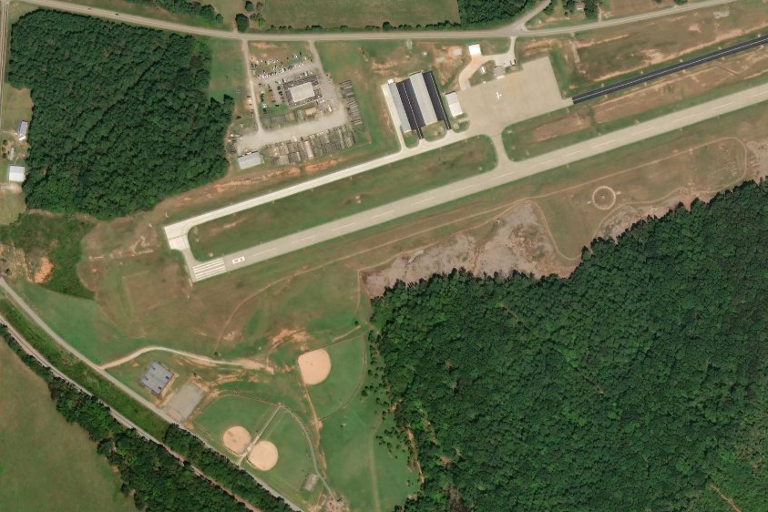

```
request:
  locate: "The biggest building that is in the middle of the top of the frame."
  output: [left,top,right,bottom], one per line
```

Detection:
[410,73,438,125]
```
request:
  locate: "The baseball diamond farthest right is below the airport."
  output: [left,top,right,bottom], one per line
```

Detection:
[299,336,367,427]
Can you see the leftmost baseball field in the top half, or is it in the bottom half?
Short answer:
bottom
